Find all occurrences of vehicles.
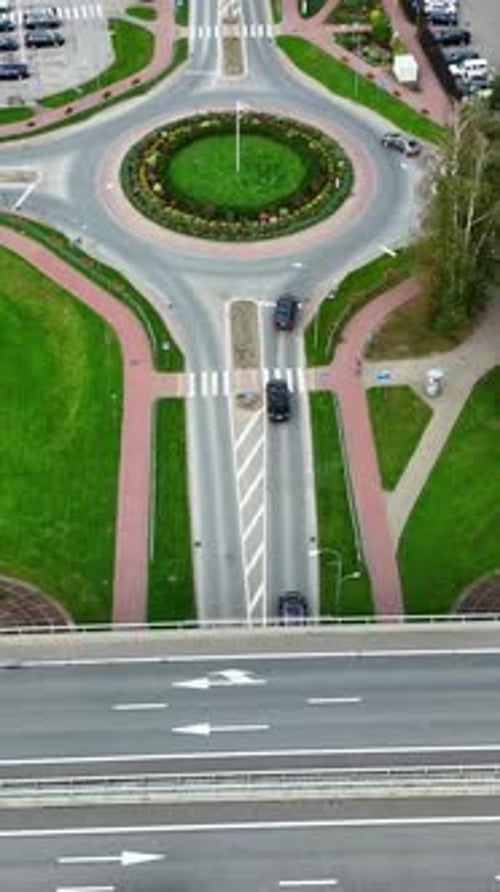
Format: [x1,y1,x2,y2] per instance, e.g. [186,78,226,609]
[24,10,60,27]
[24,30,64,47]
[274,296,298,331]
[383,134,422,156]
[424,370,446,397]
[451,57,491,78]
[444,46,480,62]
[0,63,30,80]
[0,0,10,12]
[0,35,17,51]
[436,30,472,47]
[0,16,16,32]
[429,10,463,27]
[266,380,292,423]
[277,597,307,625]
